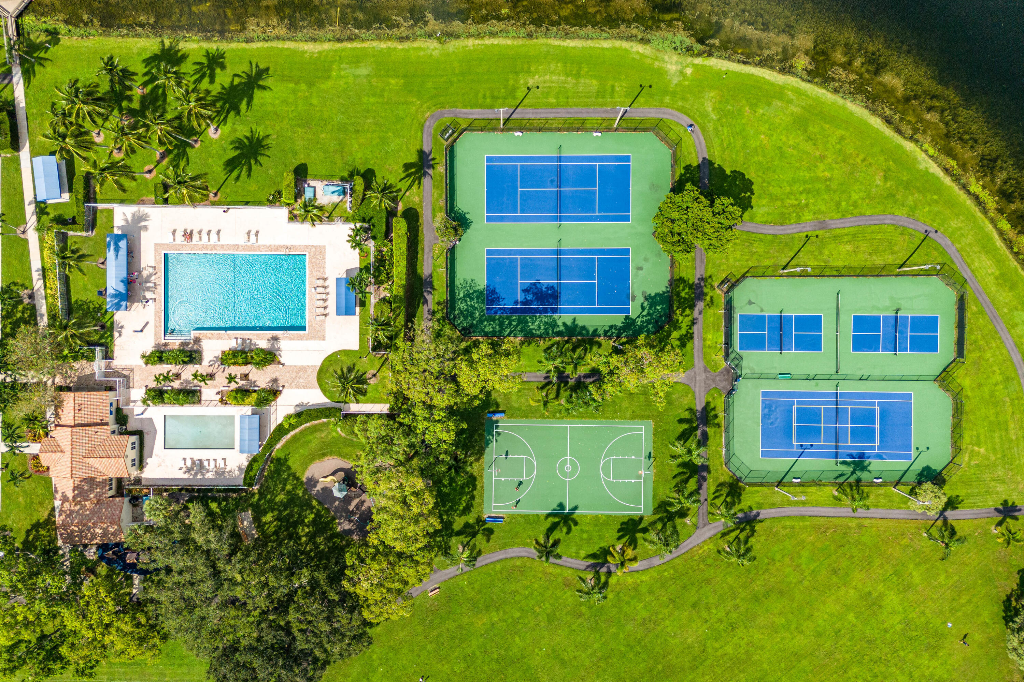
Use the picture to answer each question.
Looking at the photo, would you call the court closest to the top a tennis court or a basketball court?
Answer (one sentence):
I'd say the court closest to the top is a tennis court.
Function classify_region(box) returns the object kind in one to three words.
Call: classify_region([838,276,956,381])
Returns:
sports court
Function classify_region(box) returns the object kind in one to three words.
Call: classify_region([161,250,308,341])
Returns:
swimming pool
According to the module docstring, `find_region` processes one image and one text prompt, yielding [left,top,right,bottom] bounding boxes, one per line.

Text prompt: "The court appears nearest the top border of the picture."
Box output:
[447,131,672,235]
